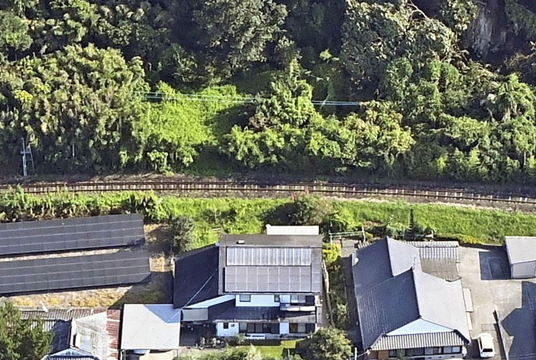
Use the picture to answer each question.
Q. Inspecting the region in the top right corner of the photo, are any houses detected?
No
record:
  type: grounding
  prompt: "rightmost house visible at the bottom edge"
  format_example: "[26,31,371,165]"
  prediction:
[351,236,473,359]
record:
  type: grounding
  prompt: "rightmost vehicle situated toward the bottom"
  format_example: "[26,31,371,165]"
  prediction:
[477,328,495,357]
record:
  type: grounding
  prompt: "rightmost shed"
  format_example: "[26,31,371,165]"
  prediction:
[506,236,536,278]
